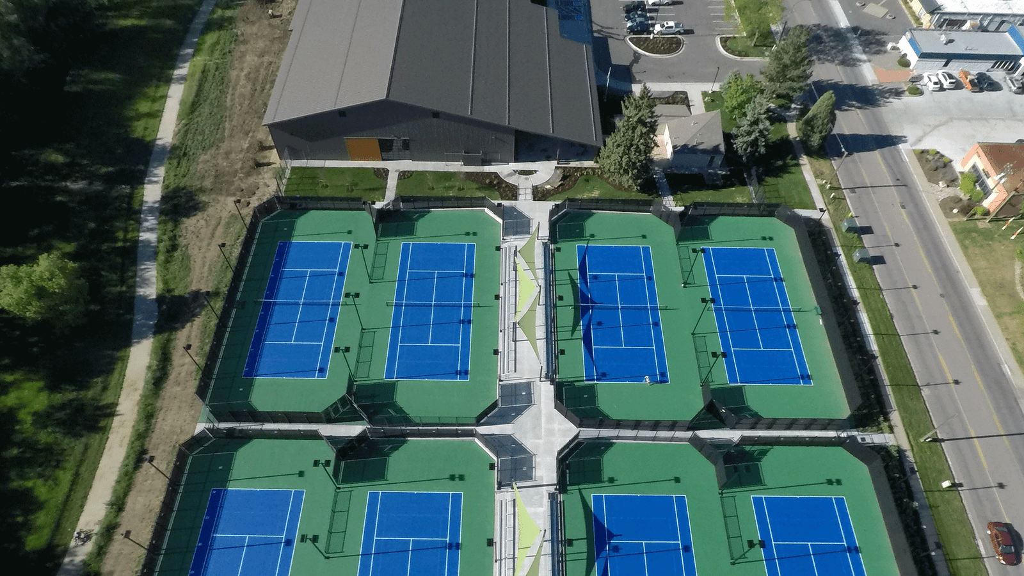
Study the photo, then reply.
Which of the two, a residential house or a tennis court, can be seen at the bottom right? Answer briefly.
tennis court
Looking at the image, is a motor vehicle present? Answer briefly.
Yes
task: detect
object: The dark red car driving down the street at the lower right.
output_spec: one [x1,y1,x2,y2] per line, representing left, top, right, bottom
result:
[980,519,1014,562]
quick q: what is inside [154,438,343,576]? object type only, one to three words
tennis court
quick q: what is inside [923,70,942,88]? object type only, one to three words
car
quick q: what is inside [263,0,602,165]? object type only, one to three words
building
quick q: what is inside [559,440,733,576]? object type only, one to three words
tennis court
